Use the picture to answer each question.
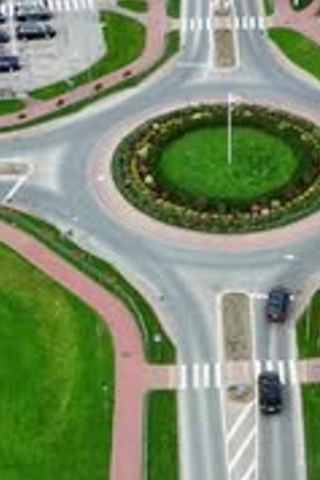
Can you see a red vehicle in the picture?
No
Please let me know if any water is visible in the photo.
No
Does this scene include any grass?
Yes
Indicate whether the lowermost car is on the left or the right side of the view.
right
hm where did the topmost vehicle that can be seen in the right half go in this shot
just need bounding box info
[266,288,289,323]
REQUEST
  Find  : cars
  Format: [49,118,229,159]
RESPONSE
[0,55,22,72]
[16,23,55,39]
[0,12,7,24]
[266,288,289,323]
[15,3,51,19]
[0,30,9,44]
[257,372,283,416]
